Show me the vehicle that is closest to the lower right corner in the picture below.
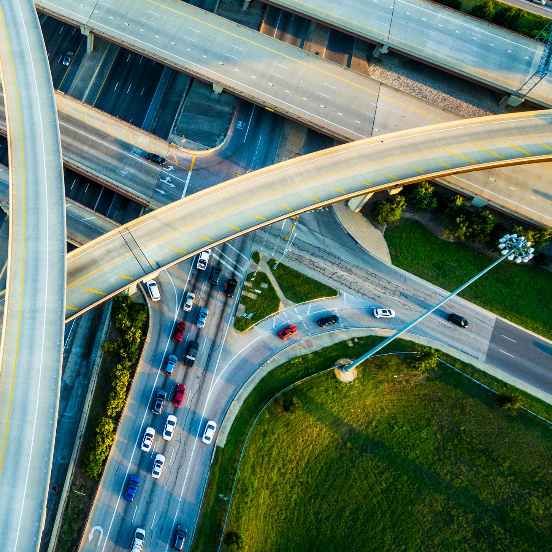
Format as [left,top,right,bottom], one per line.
[445,312,471,331]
